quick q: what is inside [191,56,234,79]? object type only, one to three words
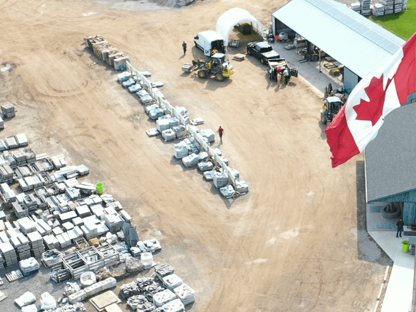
work vehicle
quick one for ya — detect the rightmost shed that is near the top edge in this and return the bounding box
[269,0,416,108]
